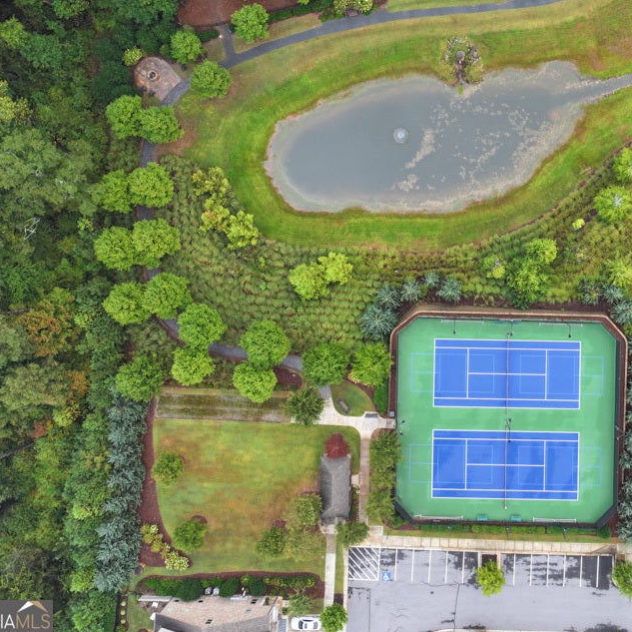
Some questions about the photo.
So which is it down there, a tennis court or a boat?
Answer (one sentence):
Visible in the photo is a tennis court.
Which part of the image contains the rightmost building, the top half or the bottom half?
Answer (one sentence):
The rightmost building sits in the bottom half of the picture.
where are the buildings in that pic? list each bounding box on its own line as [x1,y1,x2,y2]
[155,594,287,632]
[320,450,353,525]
